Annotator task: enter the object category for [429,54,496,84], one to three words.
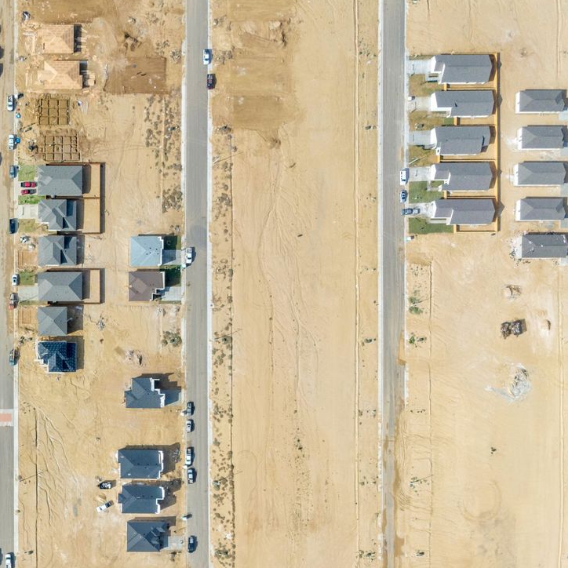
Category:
house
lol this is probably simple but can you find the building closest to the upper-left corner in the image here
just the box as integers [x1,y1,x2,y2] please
[39,24,75,54]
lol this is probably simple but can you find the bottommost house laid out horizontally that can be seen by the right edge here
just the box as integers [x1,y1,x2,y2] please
[517,233,568,258]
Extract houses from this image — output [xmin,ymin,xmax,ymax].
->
[38,236,77,264]
[431,162,496,190]
[429,54,496,84]
[33,340,77,374]
[430,90,498,117]
[517,125,568,149]
[37,306,67,335]
[516,198,568,220]
[118,484,164,514]
[118,448,163,479]
[517,233,568,258]
[126,521,168,551]
[516,90,568,112]
[430,126,493,154]
[38,271,83,301]
[39,24,75,54]
[430,199,498,224]
[130,236,164,267]
[514,161,568,185]
[38,199,77,231]
[38,60,83,90]
[125,376,164,407]
[38,166,83,195]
